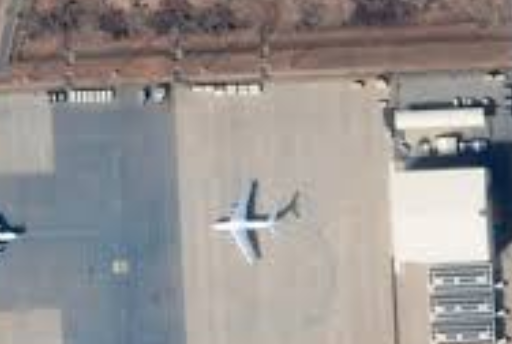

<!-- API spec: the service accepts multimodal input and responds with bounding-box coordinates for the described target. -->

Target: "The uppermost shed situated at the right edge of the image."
[394,107,487,130]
